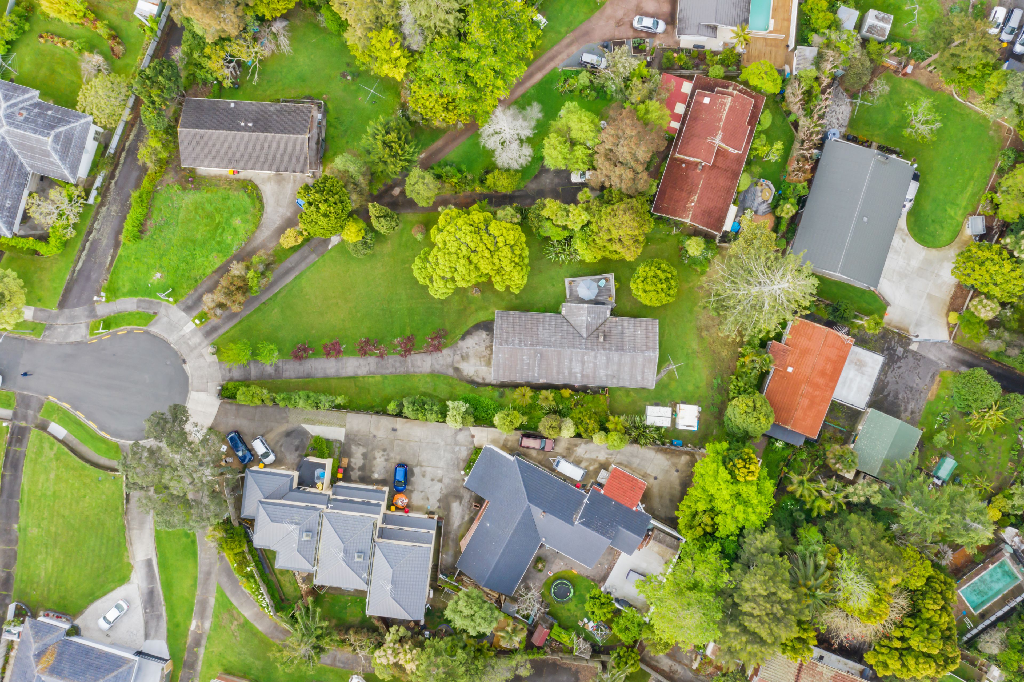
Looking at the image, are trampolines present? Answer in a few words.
Yes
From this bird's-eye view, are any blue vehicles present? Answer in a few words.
Yes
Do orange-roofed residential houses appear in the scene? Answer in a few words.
Yes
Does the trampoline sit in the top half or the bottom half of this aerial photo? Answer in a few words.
bottom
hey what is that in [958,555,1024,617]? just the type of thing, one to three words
swimming pool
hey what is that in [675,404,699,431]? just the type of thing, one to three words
shed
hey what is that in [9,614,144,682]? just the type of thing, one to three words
house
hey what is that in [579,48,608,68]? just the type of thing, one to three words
car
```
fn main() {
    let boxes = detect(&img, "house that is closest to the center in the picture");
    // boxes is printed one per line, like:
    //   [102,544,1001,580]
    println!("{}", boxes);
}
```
[492,303,659,389]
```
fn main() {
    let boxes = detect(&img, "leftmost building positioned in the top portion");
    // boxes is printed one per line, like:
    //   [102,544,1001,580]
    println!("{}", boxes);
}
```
[0,78,104,239]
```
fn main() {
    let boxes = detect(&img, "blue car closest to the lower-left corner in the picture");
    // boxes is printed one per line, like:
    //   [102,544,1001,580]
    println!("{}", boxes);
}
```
[225,431,250,465]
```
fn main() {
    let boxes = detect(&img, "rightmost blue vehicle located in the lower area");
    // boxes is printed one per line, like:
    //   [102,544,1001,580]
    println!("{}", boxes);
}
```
[392,464,407,493]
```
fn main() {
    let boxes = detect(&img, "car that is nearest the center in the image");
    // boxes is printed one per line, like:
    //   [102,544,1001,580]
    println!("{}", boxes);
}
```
[520,436,555,452]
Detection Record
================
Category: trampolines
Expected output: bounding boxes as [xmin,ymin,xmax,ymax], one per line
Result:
[551,582,575,607]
